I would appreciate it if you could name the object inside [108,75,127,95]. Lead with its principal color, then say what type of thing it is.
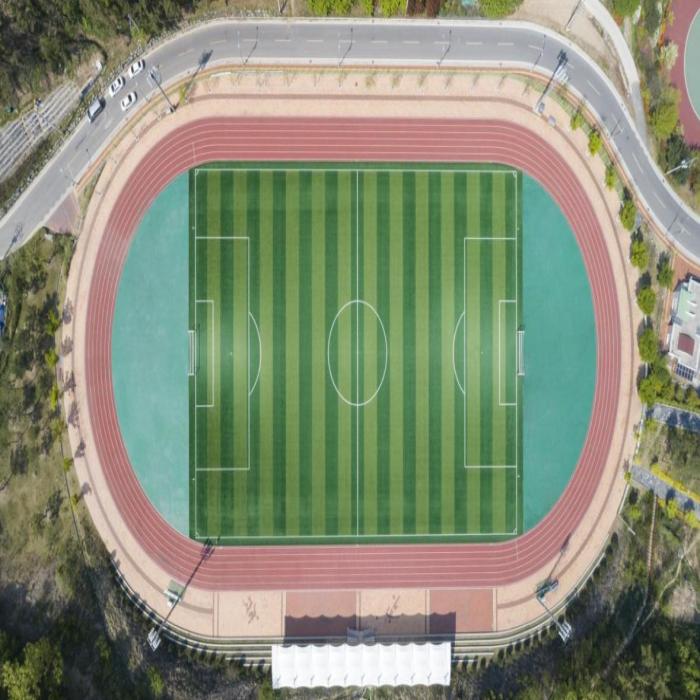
white car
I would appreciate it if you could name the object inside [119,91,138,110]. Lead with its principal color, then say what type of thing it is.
white car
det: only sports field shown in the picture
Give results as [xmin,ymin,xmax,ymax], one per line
[189,165,523,543]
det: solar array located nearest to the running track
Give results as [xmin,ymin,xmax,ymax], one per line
[674,362,695,383]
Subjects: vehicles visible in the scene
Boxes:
[85,97,105,122]
[108,75,127,95]
[119,91,138,110]
[128,59,147,78]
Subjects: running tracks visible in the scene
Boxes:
[86,118,621,589]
